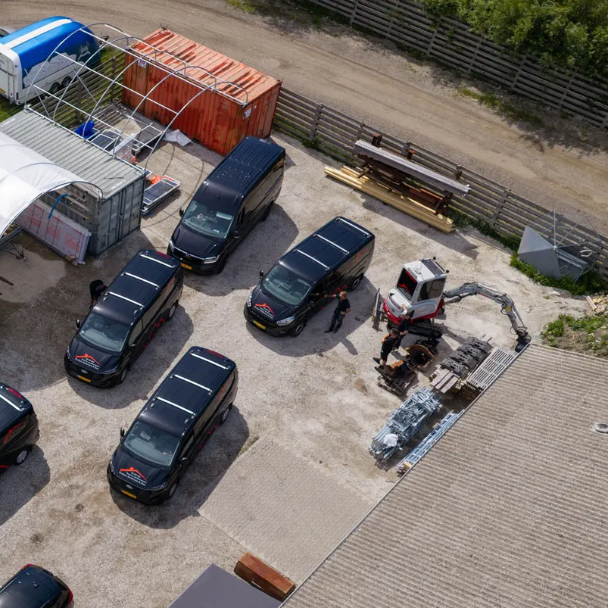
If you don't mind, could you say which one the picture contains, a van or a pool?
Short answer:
van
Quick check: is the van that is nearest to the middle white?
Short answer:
No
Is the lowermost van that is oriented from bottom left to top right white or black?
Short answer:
black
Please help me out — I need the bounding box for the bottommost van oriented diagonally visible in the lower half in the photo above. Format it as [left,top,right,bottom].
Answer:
[108,344,241,504]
